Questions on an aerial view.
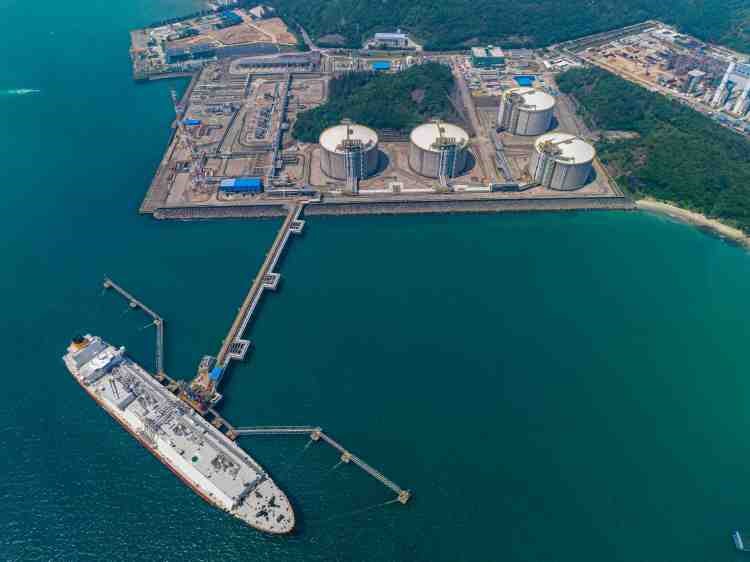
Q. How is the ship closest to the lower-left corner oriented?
at an angle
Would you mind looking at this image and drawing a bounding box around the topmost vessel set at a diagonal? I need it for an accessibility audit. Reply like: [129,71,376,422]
[62,338,289,527]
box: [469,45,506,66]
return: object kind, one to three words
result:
building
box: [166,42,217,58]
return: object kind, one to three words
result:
building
